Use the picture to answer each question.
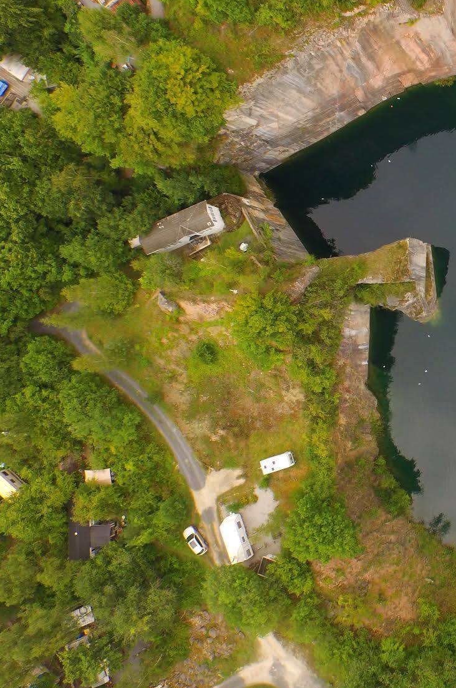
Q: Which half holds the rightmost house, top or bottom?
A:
top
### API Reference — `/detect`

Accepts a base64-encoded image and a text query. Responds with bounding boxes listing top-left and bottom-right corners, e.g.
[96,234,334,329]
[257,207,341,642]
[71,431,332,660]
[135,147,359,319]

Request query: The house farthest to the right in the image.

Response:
[129,200,224,255]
